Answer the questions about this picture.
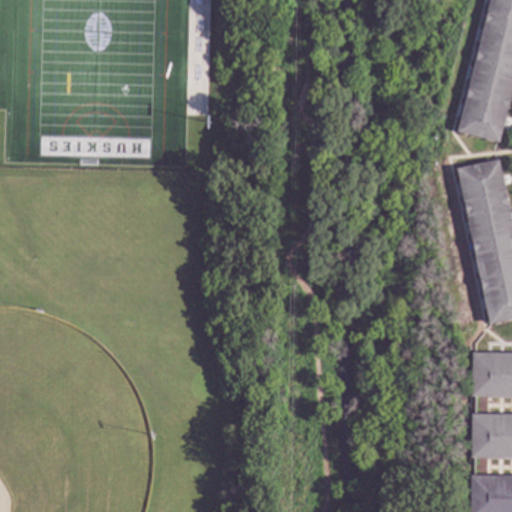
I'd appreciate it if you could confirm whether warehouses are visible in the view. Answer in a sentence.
No, there isn't any warehouse down there.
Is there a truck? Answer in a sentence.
No, there appears to be no truck in this shot.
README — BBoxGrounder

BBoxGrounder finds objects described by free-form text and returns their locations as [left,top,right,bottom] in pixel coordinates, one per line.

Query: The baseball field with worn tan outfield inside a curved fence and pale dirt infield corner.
[0,304,154,512]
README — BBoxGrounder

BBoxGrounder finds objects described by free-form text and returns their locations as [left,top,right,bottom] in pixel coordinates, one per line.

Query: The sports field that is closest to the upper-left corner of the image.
[0,0,189,166]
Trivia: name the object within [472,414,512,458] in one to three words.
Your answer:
building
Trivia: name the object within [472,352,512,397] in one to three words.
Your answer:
building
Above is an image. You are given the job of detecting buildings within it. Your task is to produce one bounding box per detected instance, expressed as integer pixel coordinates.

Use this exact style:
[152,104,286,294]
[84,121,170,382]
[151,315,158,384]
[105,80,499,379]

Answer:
[472,352,512,397]
[458,0,512,142]
[458,159,512,326]
[472,474,512,512]
[472,414,512,458]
